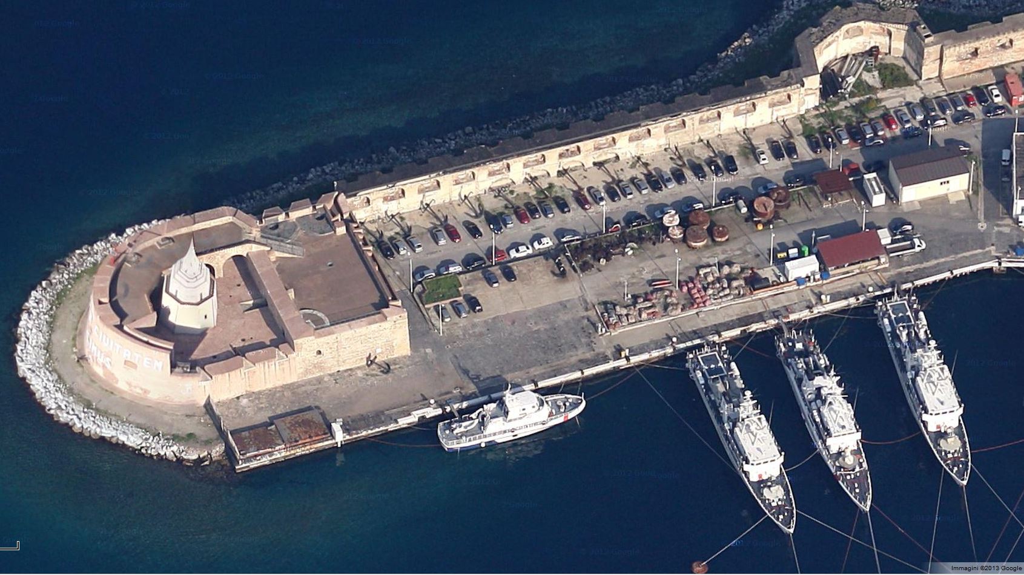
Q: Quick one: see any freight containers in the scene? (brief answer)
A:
Yes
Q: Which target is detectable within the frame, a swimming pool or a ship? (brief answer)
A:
ship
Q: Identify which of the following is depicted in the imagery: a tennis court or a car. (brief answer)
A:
car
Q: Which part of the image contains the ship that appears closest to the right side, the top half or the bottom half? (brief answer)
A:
bottom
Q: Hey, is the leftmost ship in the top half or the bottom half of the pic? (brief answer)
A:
bottom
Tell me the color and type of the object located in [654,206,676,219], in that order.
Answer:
blue vehicle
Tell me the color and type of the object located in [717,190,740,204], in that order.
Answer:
black car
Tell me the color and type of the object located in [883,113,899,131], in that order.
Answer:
red car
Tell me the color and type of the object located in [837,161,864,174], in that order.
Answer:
red vehicle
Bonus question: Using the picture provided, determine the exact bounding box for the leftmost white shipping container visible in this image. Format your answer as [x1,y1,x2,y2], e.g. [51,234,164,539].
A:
[786,255,821,280]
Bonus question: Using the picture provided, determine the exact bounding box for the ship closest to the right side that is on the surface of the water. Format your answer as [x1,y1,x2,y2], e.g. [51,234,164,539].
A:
[878,285,968,485]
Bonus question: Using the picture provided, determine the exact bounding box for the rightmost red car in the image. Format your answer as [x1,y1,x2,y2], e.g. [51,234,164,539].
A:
[962,91,980,109]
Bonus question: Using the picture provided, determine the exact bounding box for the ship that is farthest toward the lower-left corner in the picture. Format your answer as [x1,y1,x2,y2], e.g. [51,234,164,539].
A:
[436,389,585,453]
